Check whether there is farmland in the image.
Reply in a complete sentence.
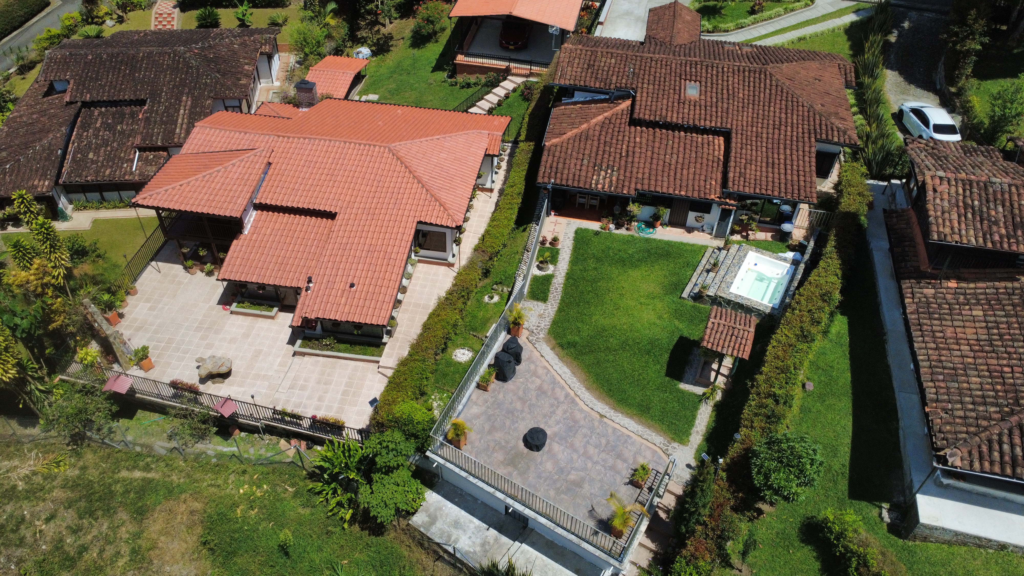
No, there is no farmland in the image.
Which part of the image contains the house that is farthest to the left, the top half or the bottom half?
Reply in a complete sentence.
You can find the house that is farthest to the left in the top half.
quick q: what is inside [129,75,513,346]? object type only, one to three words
house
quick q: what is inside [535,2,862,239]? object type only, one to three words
house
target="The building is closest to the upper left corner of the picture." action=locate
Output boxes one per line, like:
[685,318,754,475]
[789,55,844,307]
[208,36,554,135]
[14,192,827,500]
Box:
[0,26,281,215]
